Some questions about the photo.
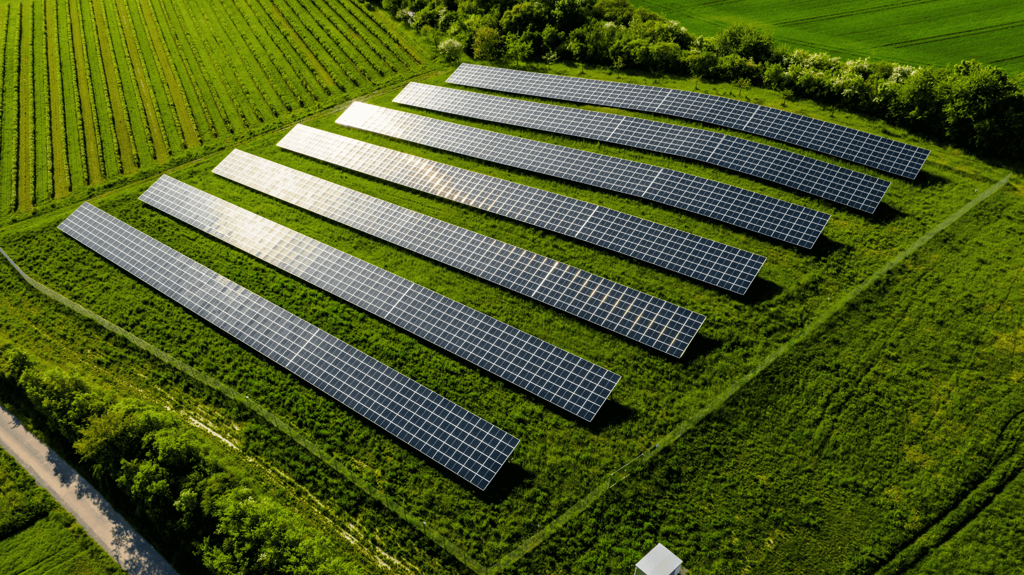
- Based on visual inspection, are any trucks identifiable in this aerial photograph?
No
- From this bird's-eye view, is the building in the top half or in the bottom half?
bottom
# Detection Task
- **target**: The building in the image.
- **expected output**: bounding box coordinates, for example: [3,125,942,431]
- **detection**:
[635,544,683,575]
